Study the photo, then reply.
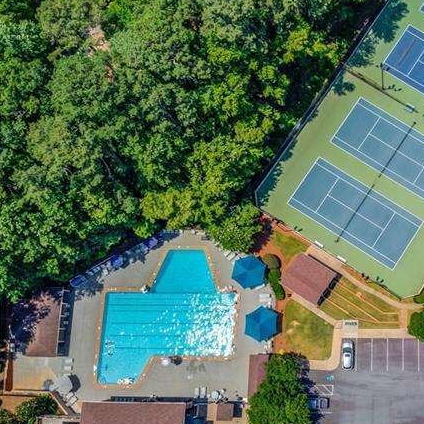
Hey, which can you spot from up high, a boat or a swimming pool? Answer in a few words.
swimming pool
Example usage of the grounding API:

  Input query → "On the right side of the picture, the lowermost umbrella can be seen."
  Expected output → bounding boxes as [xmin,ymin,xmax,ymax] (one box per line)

[243,306,276,345]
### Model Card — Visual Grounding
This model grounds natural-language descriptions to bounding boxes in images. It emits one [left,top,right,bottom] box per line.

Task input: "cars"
[304,397,330,411]
[340,341,354,369]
